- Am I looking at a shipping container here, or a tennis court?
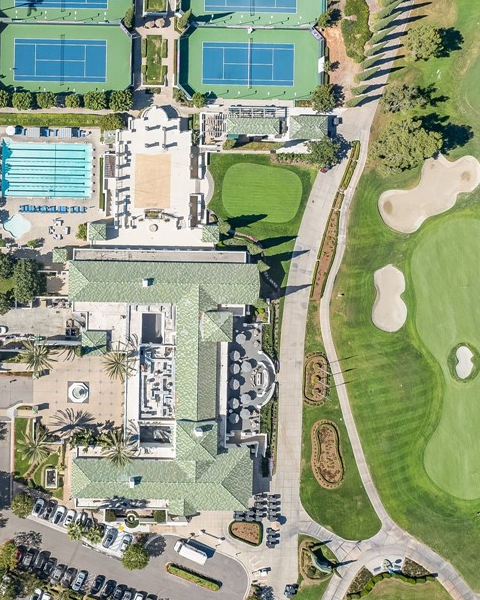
tennis court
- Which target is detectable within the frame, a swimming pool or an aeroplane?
swimming pool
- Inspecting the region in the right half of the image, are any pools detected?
No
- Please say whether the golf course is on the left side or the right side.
right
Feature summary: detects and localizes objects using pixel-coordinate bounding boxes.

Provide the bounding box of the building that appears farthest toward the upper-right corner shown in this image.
[286,115,329,139]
